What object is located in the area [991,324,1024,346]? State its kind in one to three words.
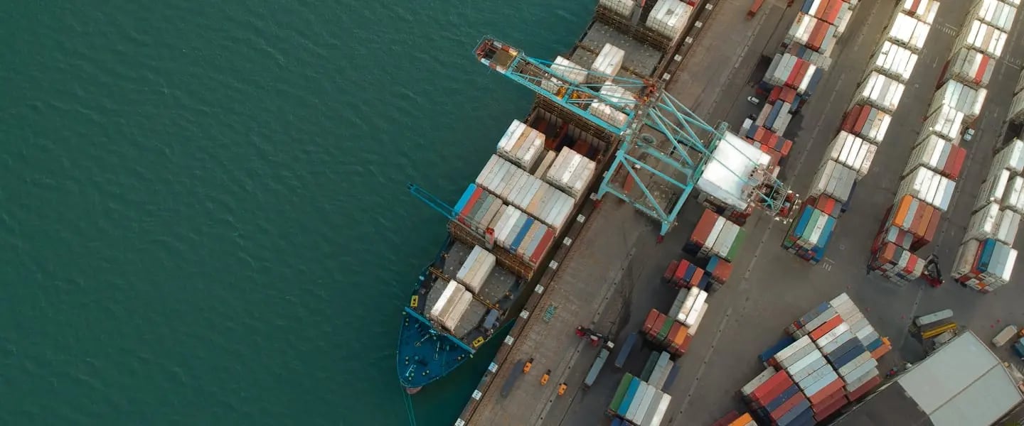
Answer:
truck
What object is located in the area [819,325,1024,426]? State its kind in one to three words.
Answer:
shed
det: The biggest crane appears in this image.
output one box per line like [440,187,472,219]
[469,31,807,246]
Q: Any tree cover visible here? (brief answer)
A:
No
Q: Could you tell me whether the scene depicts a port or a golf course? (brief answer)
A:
port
